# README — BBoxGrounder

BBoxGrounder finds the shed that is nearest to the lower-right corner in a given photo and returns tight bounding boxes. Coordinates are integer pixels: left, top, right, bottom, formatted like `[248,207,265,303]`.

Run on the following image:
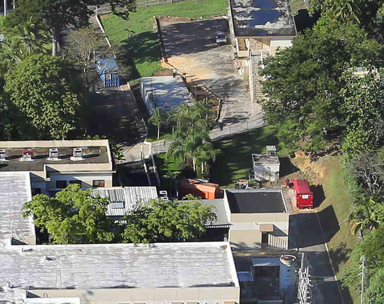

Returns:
[252,267,276,299]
